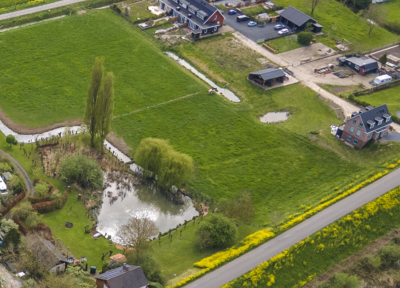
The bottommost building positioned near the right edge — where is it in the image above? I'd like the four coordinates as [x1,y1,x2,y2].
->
[343,104,392,146]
